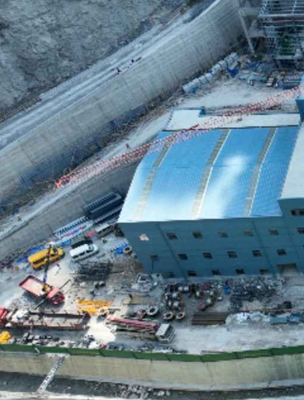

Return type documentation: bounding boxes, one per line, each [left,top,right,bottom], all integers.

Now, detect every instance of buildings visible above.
[231,0,304,67]
[111,79,304,283]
